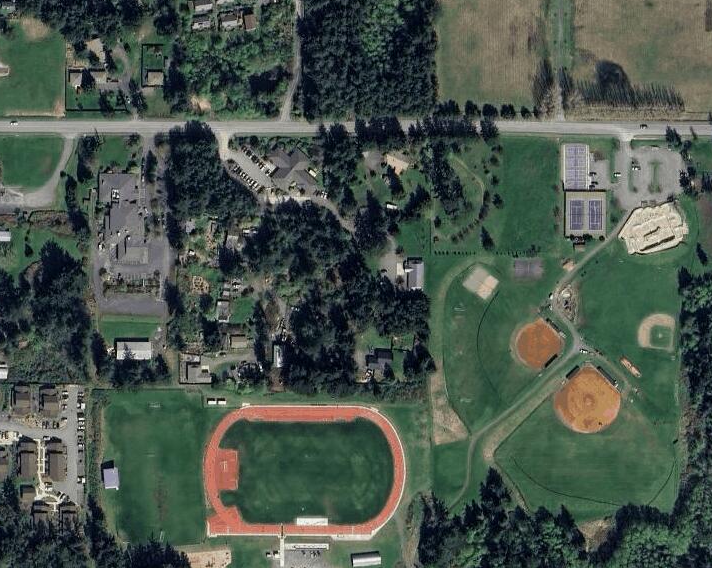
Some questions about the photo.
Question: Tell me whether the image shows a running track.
Yes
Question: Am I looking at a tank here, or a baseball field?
baseball field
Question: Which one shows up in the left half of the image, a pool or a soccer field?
soccer field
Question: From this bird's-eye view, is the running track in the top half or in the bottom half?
bottom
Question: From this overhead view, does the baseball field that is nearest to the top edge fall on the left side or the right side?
right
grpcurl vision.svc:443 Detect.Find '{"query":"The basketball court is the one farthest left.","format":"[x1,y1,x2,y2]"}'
[515,259,542,278]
